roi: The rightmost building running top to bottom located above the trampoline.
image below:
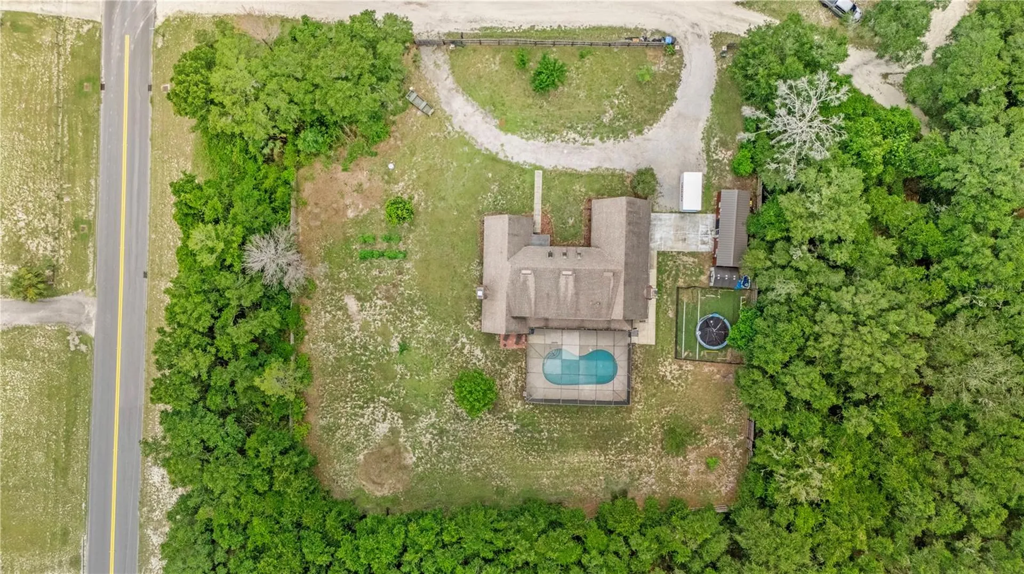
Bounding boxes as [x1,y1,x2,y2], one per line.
[712,188,750,268]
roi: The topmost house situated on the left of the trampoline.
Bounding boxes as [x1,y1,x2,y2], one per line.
[476,197,652,334]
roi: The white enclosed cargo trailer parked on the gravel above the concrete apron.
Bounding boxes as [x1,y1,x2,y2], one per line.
[678,171,703,218]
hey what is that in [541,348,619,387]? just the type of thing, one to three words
swimming pool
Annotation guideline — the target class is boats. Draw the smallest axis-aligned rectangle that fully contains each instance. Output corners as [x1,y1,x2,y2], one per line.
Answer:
[405,88,434,115]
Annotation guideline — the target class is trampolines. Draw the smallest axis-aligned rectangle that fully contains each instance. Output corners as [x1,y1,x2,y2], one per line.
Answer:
[697,312,731,348]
